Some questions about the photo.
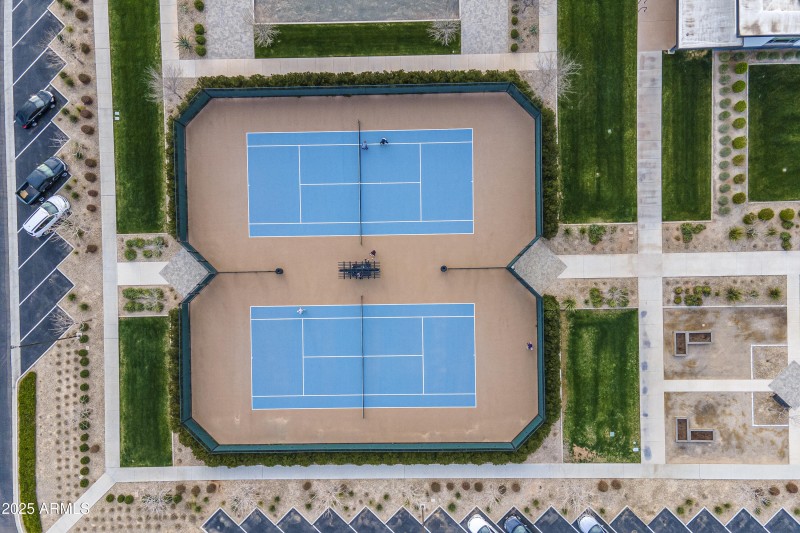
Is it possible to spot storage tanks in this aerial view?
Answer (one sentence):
No, I find no storage tank anywhere in the image.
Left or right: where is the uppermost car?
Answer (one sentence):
It is on the left.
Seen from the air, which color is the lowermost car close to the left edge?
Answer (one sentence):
In this view, the lowermost car close to the left edge is white.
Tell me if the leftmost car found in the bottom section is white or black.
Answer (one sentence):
In this view, the leftmost car found in the bottom section is white.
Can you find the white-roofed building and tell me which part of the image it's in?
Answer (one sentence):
The white-roofed building is located in the top right region of the scene.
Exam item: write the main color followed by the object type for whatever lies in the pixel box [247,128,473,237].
blue tennis court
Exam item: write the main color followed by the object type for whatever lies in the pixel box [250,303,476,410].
blue tennis court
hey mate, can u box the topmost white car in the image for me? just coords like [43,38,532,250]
[27,197,69,237]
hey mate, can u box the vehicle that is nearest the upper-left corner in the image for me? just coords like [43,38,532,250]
[14,88,56,128]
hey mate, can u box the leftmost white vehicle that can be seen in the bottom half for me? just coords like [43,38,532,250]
[468,513,501,533]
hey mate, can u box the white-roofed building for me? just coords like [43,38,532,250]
[669,0,800,54]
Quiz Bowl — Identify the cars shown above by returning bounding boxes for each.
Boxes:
[14,88,56,128]
[27,197,69,237]
[581,513,613,533]
[468,513,501,533]
[505,515,534,533]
